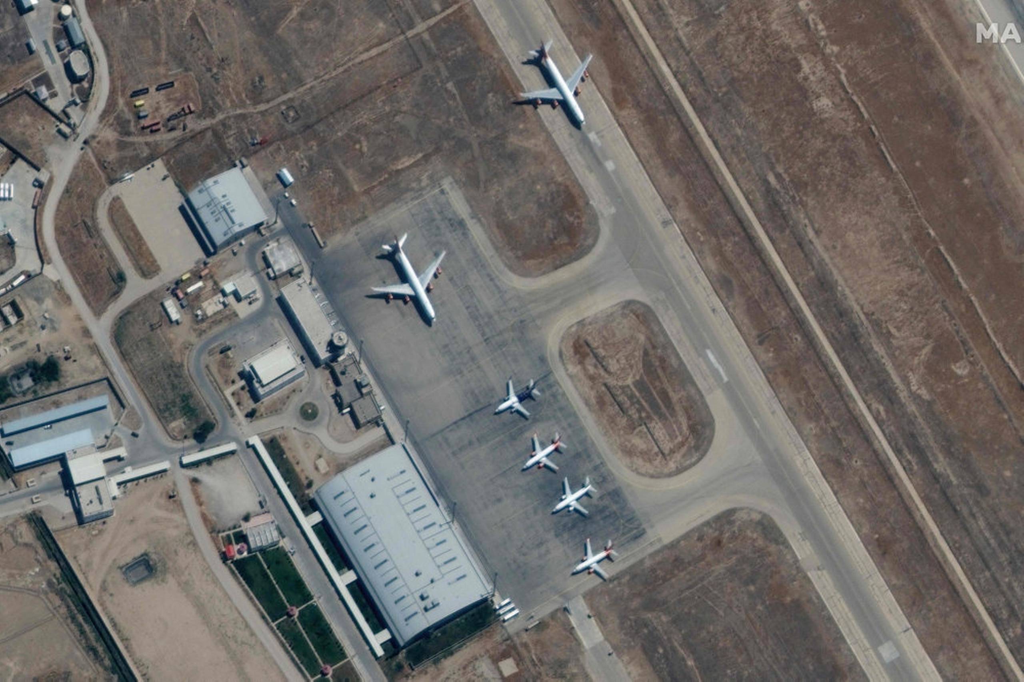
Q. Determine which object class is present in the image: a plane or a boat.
plane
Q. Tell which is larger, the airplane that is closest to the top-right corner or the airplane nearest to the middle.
the airplane that is closest to the top-right corner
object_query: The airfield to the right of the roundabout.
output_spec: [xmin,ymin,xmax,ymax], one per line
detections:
[312,0,1024,682]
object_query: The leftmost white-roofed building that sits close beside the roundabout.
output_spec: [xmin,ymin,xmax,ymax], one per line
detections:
[239,338,304,399]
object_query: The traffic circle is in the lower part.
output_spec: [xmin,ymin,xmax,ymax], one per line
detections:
[291,393,327,429]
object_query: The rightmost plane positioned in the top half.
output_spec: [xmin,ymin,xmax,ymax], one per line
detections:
[520,43,598,122]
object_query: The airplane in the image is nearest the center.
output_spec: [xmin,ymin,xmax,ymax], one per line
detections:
[495,382,540,415]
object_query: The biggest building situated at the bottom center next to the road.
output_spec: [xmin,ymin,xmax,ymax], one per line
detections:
[314,443,494,650]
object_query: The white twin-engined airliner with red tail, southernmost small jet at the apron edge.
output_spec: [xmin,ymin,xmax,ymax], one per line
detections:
[571,540,620,576]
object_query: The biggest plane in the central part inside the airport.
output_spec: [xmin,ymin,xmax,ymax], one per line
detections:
[371,239,449,318]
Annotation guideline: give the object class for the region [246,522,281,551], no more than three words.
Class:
greenhouse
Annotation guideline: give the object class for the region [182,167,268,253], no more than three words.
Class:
hangar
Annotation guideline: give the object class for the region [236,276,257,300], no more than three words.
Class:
building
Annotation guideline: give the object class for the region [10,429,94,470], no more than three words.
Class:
shed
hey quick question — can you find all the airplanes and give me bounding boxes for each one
[371,239,449,318]
[495,382,540,415]
[552,477,599,513]
[522,434,568,469]
[571,540,620,576]
[520,43,598,122]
